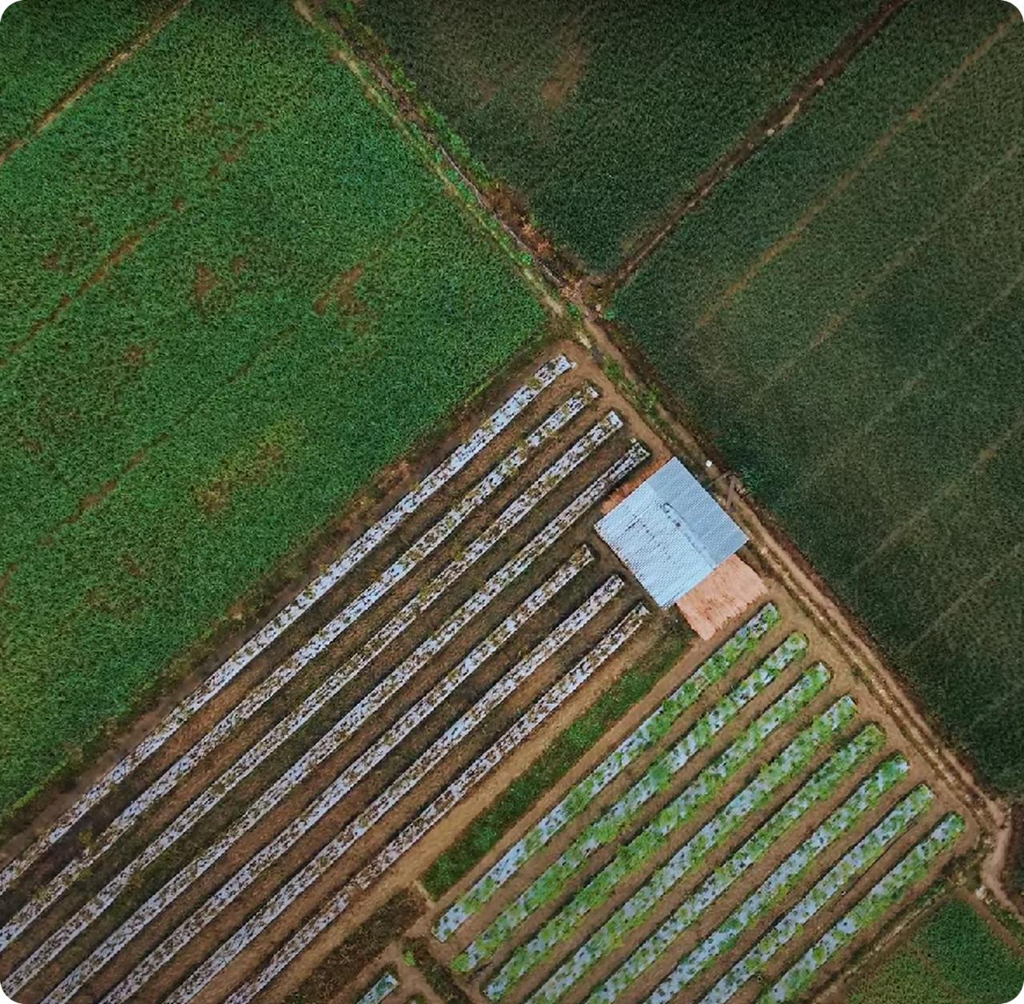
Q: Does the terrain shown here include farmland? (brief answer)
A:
Yes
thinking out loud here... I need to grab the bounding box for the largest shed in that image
[593,454,771,643]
